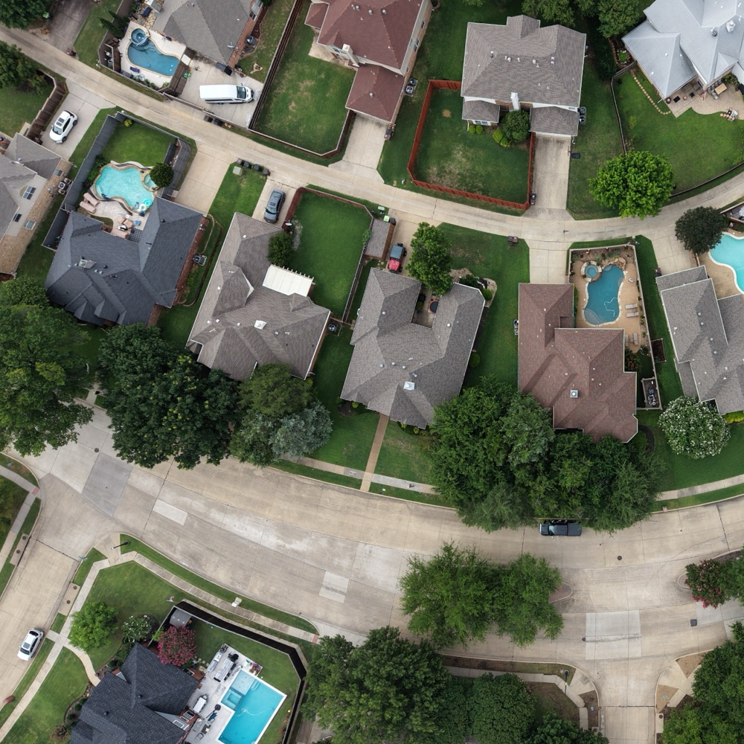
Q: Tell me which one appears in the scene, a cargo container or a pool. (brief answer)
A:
pool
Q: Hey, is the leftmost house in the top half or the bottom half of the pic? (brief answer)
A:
top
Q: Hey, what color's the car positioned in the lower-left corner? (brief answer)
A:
white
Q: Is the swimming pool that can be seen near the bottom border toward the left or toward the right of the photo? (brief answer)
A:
left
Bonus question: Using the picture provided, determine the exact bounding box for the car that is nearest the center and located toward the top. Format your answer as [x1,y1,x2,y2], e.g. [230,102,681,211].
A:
[388,242,407,273]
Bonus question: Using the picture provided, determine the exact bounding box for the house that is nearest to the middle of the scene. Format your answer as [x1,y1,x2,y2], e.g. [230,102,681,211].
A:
[338,267,487,429]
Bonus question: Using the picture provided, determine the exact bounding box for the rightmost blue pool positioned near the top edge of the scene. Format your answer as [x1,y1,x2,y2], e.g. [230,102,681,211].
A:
[126,24,183,79]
